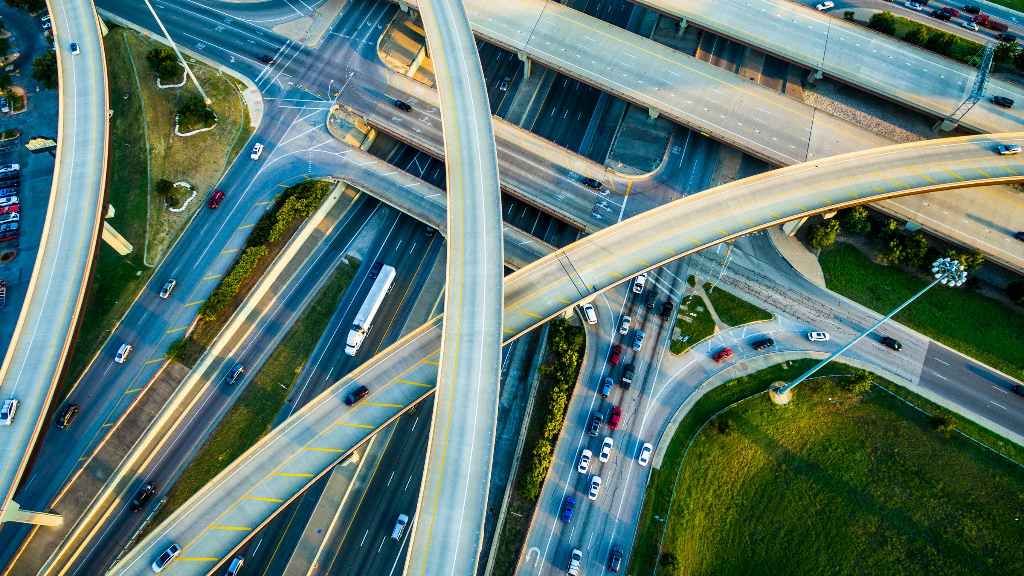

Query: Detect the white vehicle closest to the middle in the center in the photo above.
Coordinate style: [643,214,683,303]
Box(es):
[584,305,596,324]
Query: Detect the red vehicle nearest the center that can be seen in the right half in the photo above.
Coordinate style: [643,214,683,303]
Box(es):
[609,345,622,367]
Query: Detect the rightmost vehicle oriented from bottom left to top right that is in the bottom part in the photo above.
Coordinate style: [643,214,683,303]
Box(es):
[712,348,734,365]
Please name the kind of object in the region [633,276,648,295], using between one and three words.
vehicle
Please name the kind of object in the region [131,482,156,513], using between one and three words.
truck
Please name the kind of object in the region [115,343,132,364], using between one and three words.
car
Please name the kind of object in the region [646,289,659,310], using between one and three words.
vehicle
